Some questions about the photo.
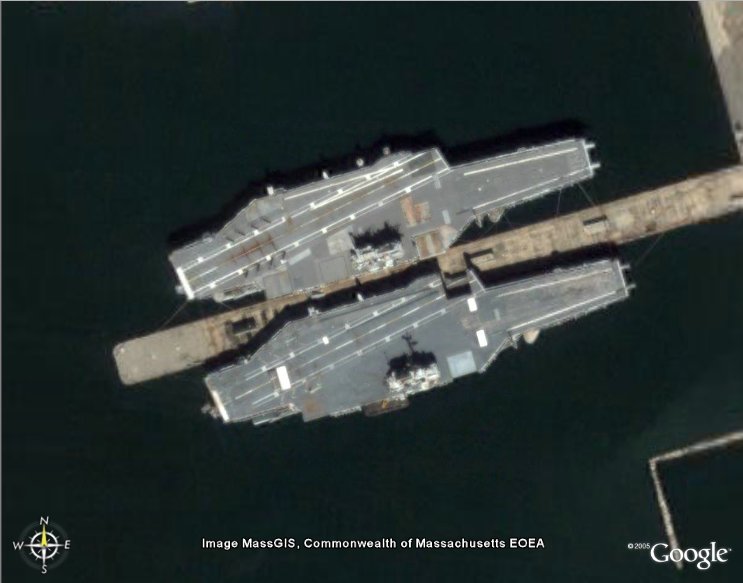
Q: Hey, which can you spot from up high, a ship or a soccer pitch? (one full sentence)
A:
This aerial view contains a ship.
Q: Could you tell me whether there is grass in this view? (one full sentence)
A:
No, there's no grass in this view.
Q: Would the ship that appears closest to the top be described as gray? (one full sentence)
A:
Yes, the ship that appears closest to the top is gray.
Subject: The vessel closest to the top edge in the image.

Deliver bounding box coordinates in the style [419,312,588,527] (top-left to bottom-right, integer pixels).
[169,137,601,302]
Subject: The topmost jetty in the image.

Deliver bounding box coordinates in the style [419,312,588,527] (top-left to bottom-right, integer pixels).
[114,168,743,385]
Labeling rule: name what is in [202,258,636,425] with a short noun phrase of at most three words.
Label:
ship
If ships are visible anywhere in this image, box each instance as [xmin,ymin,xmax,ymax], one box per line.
[202,258,636,425]
[364,397,408,418]
[169,137,601,302]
